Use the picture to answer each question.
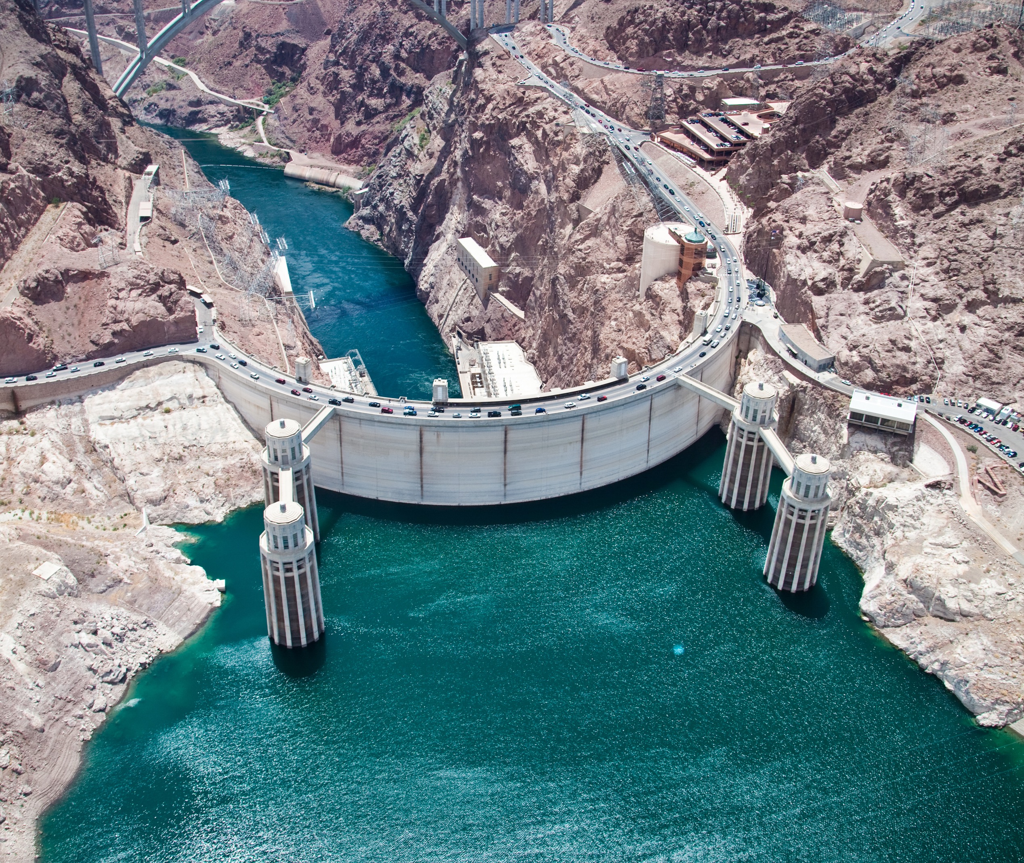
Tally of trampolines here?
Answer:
0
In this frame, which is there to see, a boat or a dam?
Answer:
dam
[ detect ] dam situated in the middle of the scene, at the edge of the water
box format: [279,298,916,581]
[180,319,739,502]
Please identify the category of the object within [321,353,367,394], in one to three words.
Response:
building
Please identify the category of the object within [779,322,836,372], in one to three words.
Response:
building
